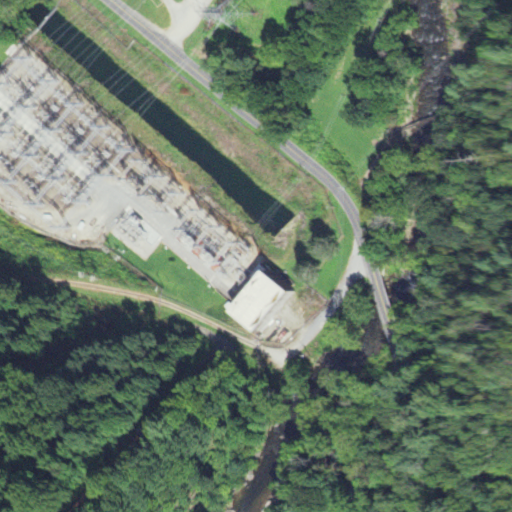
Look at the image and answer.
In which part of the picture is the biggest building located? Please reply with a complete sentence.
Look in the center portion of the view to spot the biggest building.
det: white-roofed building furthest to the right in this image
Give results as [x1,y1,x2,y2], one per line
[224,269,294,330]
